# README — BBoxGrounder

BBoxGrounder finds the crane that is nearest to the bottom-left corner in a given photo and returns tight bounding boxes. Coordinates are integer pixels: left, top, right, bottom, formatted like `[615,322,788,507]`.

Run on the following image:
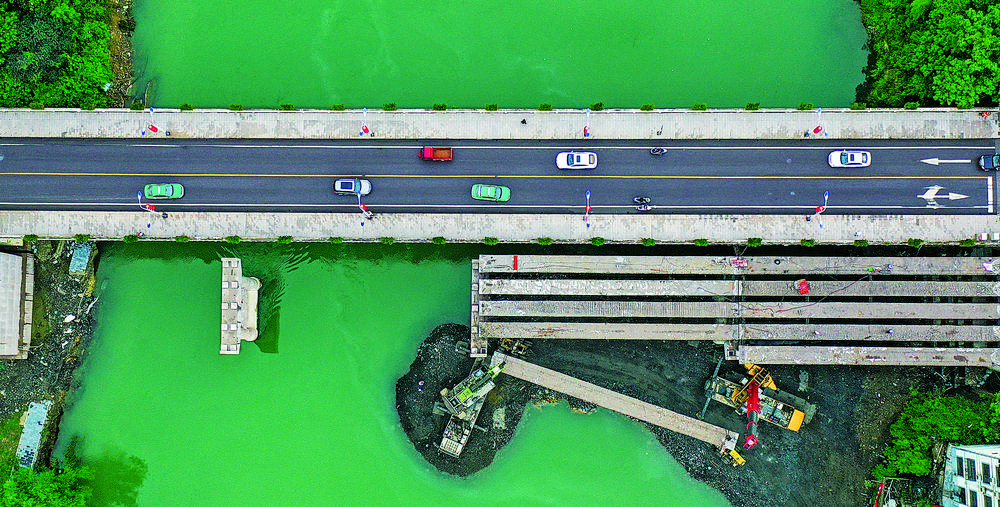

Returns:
[432,357,508,461]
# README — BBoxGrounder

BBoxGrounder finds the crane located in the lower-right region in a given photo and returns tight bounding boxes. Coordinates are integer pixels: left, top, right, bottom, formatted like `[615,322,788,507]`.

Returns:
[702,357,808,452]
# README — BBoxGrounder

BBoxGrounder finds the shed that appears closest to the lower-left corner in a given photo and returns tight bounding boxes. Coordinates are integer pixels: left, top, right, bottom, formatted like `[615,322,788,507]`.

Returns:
[10,402,48,469]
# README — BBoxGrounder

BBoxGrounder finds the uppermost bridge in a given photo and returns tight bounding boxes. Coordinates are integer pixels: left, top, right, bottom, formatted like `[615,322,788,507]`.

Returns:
[0,106,1000,246]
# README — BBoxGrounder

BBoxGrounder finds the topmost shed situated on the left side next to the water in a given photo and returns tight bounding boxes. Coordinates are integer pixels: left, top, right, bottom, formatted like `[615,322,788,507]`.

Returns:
[67,246,99,276]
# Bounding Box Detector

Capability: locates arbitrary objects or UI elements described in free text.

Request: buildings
[10,402,48,469]
[67,246,99,276]
[941,444,1000,507]
[0,252,39,362]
